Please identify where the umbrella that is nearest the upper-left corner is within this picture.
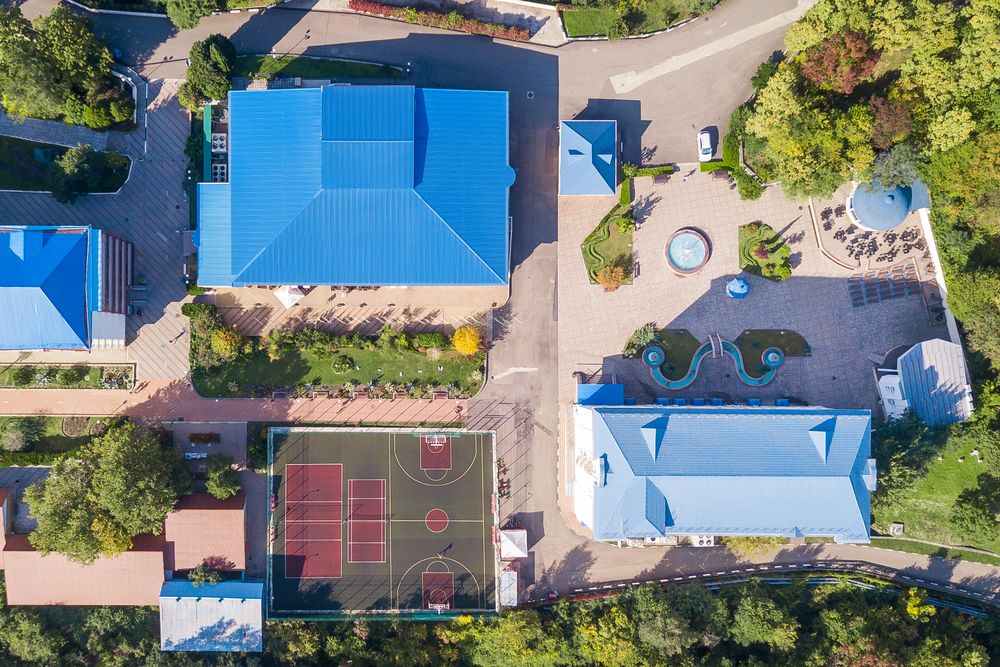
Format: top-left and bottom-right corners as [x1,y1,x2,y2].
[273,287,305,309]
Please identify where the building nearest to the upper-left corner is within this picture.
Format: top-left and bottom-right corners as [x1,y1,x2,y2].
[0,226,133,362]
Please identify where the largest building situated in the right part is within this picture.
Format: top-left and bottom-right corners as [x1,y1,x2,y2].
[573,370,875,545]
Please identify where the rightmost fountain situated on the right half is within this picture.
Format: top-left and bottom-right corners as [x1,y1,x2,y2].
[762,347,785,369]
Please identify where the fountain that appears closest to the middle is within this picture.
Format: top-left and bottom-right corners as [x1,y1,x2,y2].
[642,346,665,368]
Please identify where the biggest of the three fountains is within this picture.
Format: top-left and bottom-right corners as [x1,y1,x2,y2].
[664,226,714,275]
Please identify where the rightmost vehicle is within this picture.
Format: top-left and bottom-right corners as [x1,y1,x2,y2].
[698,131,714,160]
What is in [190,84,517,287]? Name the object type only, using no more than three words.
building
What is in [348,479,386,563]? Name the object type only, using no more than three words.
sports court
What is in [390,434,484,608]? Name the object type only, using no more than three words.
basketball court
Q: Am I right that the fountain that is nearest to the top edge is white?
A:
Yes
